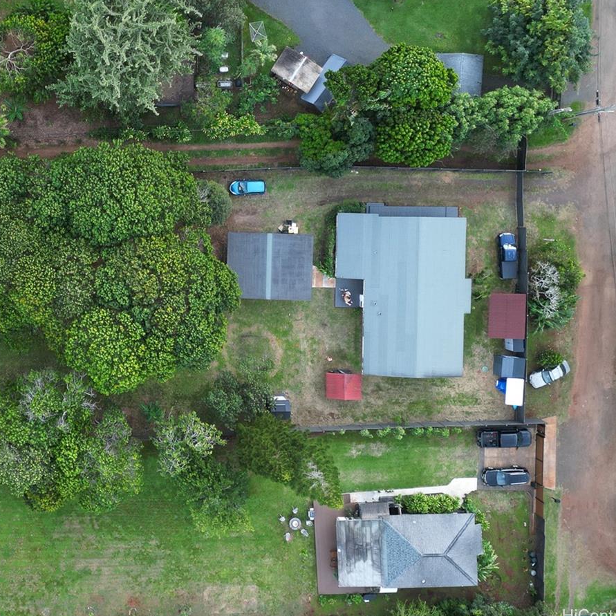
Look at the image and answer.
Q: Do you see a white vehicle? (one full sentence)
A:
Yes, there's a white vehicle here.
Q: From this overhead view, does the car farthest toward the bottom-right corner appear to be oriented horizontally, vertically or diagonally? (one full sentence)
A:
The car farthest toward the bottom-right corner has been laid out horizontally relative to the frame.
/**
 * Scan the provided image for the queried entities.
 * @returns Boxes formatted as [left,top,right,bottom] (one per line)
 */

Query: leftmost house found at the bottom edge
[336,497,483,593]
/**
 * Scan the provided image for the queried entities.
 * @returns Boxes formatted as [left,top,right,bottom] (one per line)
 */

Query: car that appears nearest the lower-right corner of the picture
[480,466,530,488]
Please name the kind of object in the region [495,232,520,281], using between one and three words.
truck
